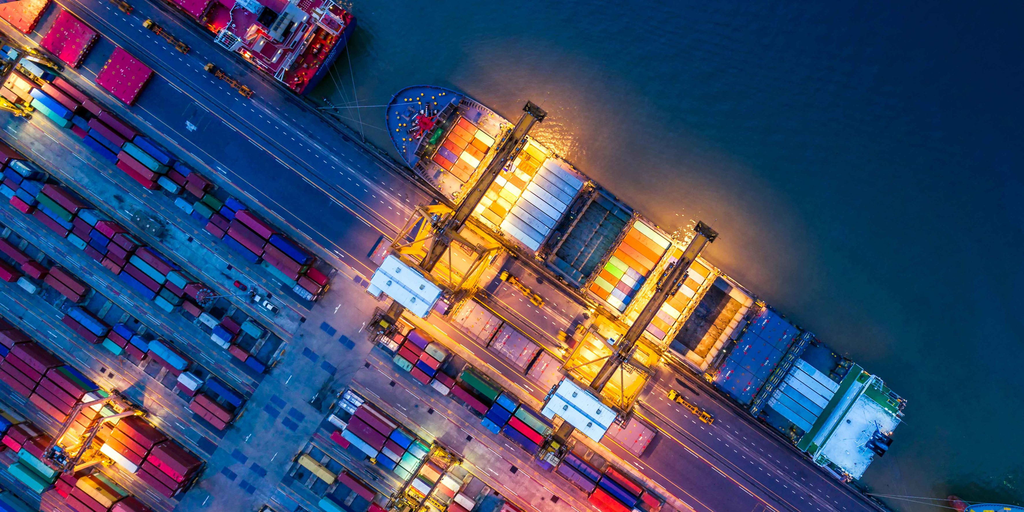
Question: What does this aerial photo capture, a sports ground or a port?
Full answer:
The area seen from above is a port.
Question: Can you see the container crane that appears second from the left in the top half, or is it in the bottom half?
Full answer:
Seen from above, the container crane that appears second from the left lies in the bottom half of the view.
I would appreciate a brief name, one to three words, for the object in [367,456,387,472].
vehicle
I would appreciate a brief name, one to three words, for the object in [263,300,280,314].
vehicle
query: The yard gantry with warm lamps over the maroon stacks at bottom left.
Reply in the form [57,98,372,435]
[43,390,149,479]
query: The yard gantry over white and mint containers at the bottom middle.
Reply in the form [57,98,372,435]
[389,438,460,512]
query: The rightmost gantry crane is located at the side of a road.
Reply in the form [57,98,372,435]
[530,222,725,472]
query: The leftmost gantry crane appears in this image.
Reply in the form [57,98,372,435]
[0,36,68,123]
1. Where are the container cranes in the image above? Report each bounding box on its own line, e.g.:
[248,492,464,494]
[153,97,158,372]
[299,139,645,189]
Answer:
[389,438,460,512]
[530,222,725,472]
[360,100,552,351]
[0,36,68,123]
[43,390,149,479]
